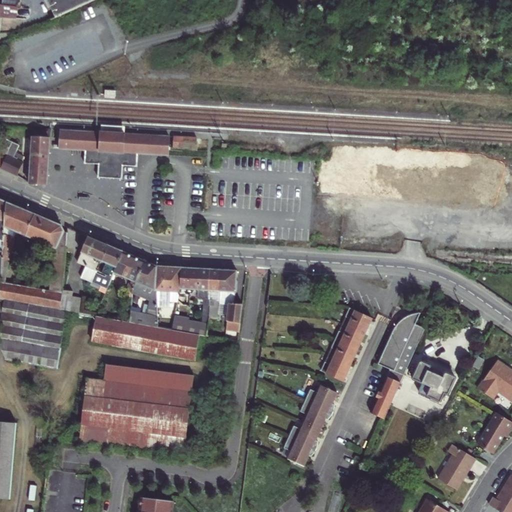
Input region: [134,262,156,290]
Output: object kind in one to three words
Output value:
house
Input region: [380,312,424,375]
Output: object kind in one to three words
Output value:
building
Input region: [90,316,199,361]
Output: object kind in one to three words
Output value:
shed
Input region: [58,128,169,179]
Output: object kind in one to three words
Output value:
train station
